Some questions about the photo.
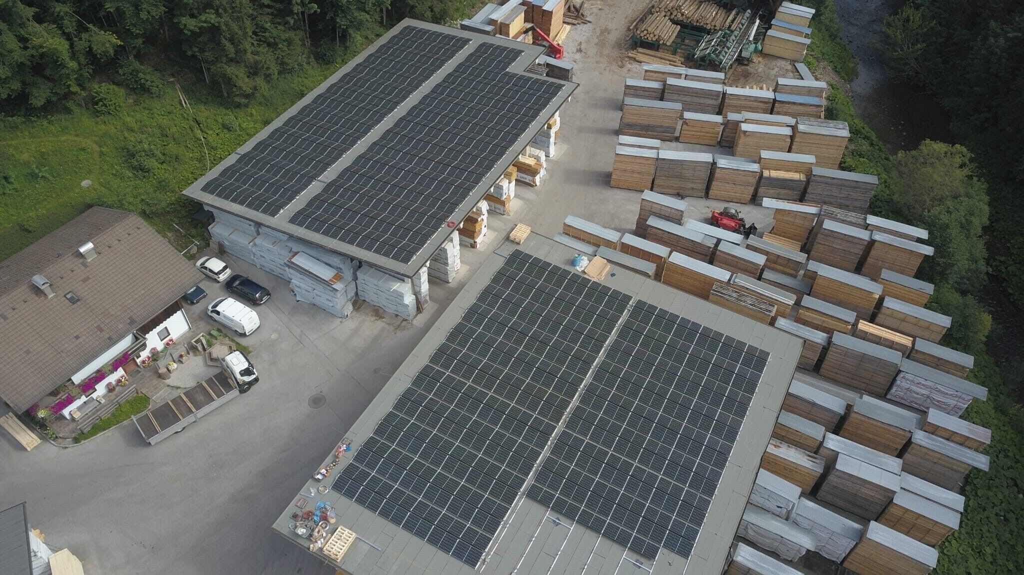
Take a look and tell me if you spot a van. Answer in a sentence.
Yes, the frame does contain a van.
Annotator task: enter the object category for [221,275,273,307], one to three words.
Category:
car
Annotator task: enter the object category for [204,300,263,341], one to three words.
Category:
van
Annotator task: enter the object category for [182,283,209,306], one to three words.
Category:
car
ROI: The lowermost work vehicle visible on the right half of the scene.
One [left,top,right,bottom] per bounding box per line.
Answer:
[705,199,758,243]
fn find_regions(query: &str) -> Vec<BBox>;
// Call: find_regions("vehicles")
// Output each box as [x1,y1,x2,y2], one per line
[519,24,563,65]
[204,300,263,341]
[705,199,758,243]
[221,275,273,307]
[134,354,265,441]
[193,256,233,283]
[182,283,209,306]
